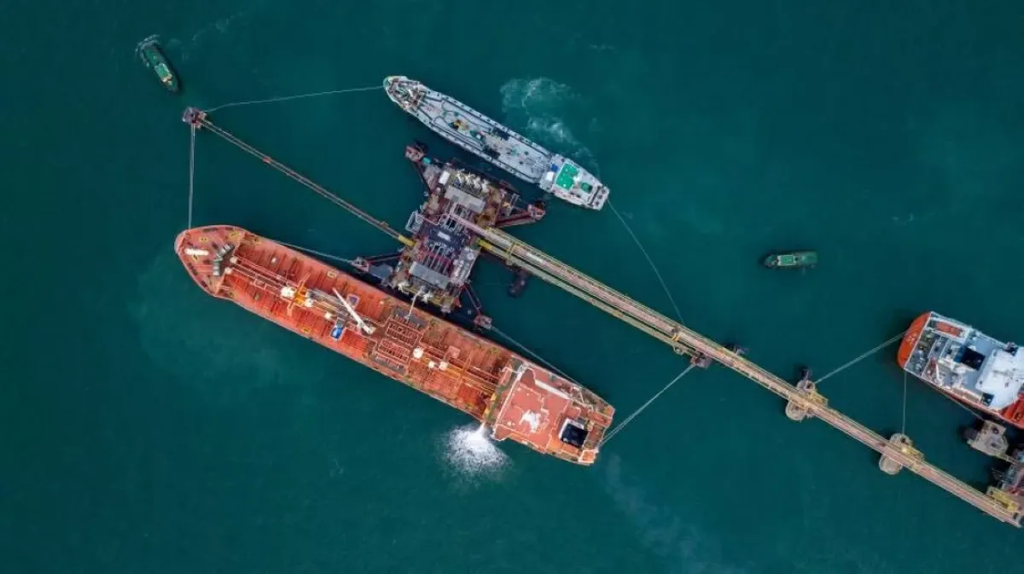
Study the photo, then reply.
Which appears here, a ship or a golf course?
ship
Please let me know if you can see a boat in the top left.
Yes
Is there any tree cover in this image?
No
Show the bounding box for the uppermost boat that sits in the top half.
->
[140,41,181,93]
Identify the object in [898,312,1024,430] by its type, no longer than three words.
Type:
ship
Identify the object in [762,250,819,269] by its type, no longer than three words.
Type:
boat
